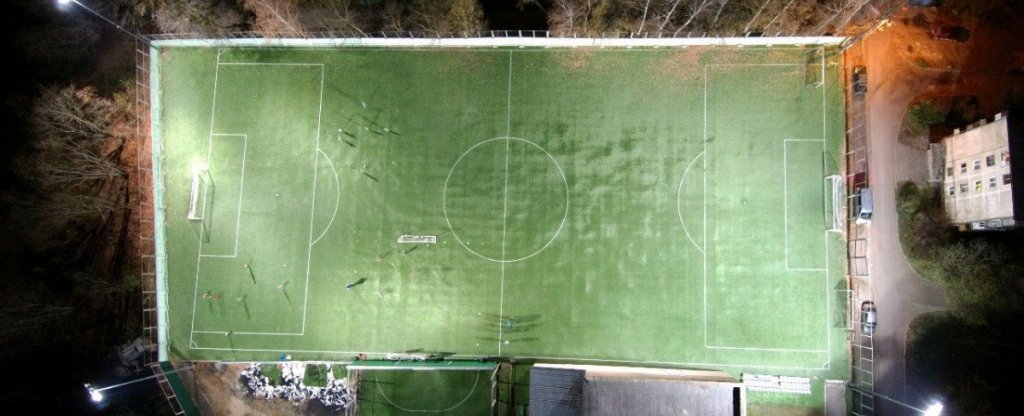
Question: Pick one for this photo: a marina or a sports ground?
sports ground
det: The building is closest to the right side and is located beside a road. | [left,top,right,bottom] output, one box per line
[940,111,1024,231]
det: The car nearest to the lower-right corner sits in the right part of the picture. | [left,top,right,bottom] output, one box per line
[860,301,879,334]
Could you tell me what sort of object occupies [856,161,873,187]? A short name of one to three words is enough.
car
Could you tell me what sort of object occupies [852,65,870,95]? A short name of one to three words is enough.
car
